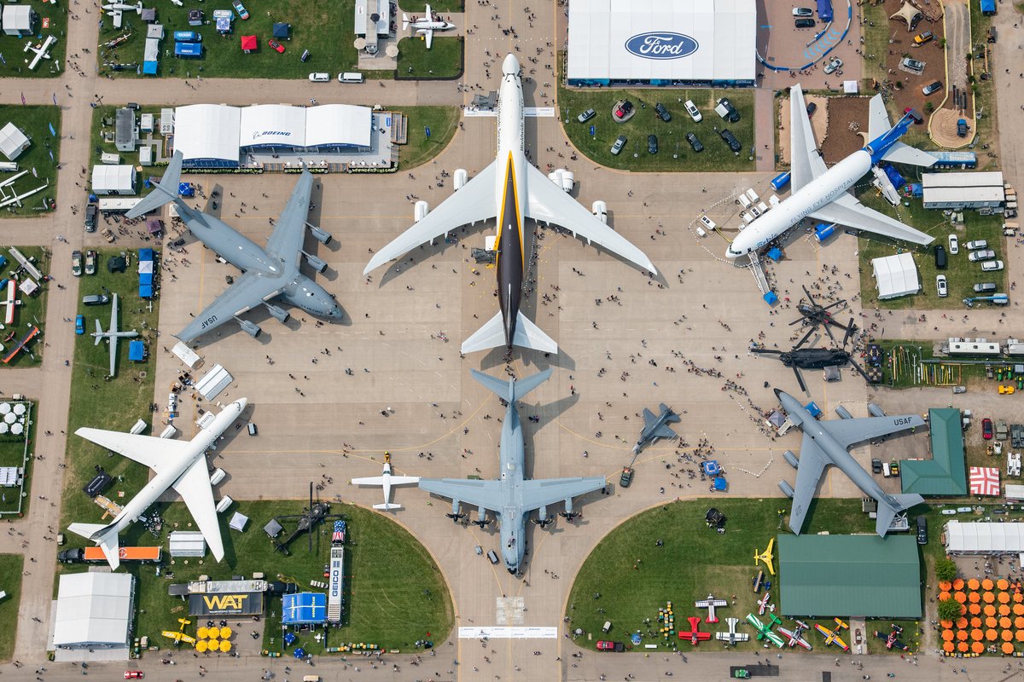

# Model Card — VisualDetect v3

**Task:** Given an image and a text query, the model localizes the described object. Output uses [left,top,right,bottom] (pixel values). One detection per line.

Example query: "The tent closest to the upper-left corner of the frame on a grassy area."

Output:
[2,5,34,35]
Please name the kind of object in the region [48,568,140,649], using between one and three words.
tent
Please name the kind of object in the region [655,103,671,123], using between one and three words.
car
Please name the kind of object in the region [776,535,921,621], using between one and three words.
shed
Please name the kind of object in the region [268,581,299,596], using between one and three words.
vehicle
